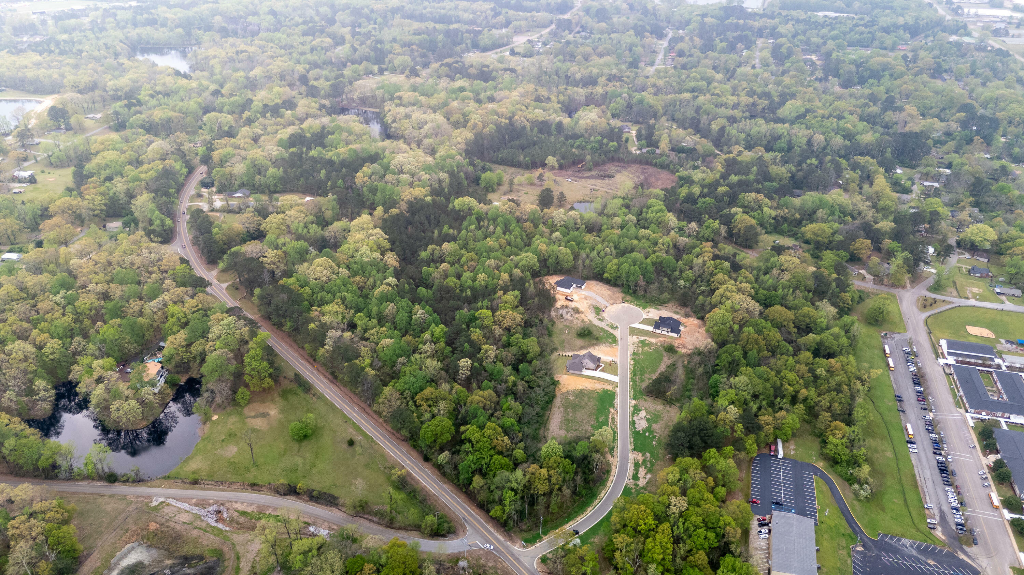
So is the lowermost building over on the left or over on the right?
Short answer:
right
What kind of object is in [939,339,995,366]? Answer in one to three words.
building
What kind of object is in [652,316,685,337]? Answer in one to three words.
house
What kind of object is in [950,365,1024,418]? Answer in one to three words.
building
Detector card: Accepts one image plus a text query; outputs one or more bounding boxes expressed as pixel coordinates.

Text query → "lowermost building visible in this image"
[769,514,831,575]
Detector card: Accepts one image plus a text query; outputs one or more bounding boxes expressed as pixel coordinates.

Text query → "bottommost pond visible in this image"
[20,376,203,480]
